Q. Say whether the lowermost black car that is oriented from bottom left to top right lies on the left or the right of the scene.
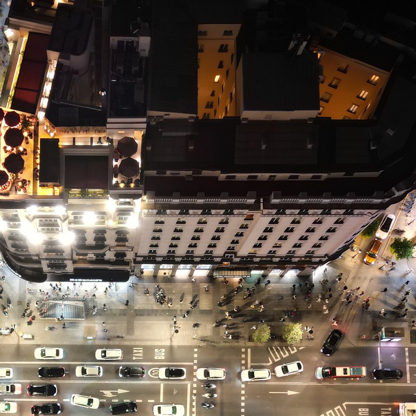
right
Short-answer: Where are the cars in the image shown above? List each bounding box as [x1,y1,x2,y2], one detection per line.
[75,364,103,379]
[0,383,25,396]
[37,365,66,379]
[108,401,138,416]
[157,366,187,381]
[31,402,61,416]
[241,369,271,382]
[0,401,18,414]
[28,383,57,397]
[0,368,14,380]
[273,360,305,379]
[371,368,403,381]
[69,394,100,410]
[95,348,123,361]
[34,347,64,361]
[118,365,147,379]
[363,237,382,266]
[154,404,183,416]
[196,368,226,381]
[319,328,343,358]
[375,215,394,242]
